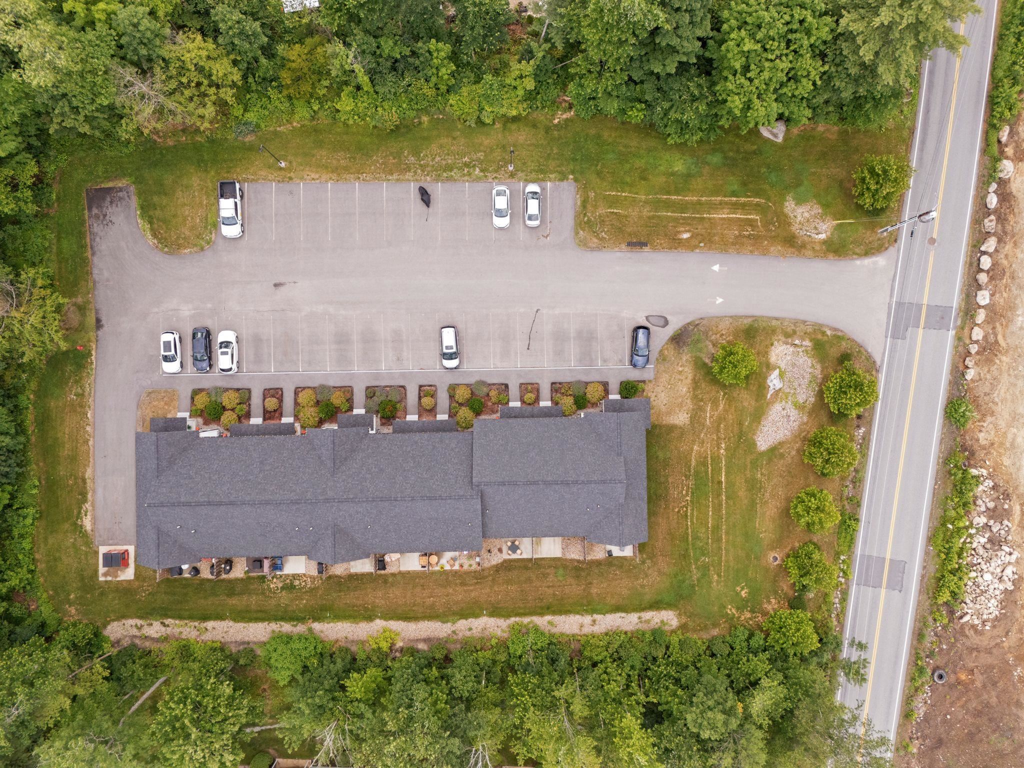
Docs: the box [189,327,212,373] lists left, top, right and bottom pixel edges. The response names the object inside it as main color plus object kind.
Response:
gray car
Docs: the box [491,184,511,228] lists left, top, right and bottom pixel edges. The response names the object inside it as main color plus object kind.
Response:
white car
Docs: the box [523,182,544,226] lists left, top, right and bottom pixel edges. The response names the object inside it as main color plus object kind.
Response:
white car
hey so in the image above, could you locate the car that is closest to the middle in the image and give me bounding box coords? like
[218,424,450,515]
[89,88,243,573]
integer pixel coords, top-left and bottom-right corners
[439,325,461,369]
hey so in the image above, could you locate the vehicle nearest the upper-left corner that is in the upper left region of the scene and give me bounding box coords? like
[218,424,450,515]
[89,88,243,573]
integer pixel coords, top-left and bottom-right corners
[218,180,243,237]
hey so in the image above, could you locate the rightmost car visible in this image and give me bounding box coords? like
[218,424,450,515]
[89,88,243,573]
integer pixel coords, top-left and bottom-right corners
[631,324,652,368]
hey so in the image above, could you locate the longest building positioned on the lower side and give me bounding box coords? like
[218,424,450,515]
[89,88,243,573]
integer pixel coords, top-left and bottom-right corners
[136,398,653,568]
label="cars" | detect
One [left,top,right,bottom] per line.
[491,184,511,228]
[439,325,461,369]
[158,331,182,373]
[189,327,212,373]
[523,182,544,226]
[215,330,238,373]
[631,324,652,368]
